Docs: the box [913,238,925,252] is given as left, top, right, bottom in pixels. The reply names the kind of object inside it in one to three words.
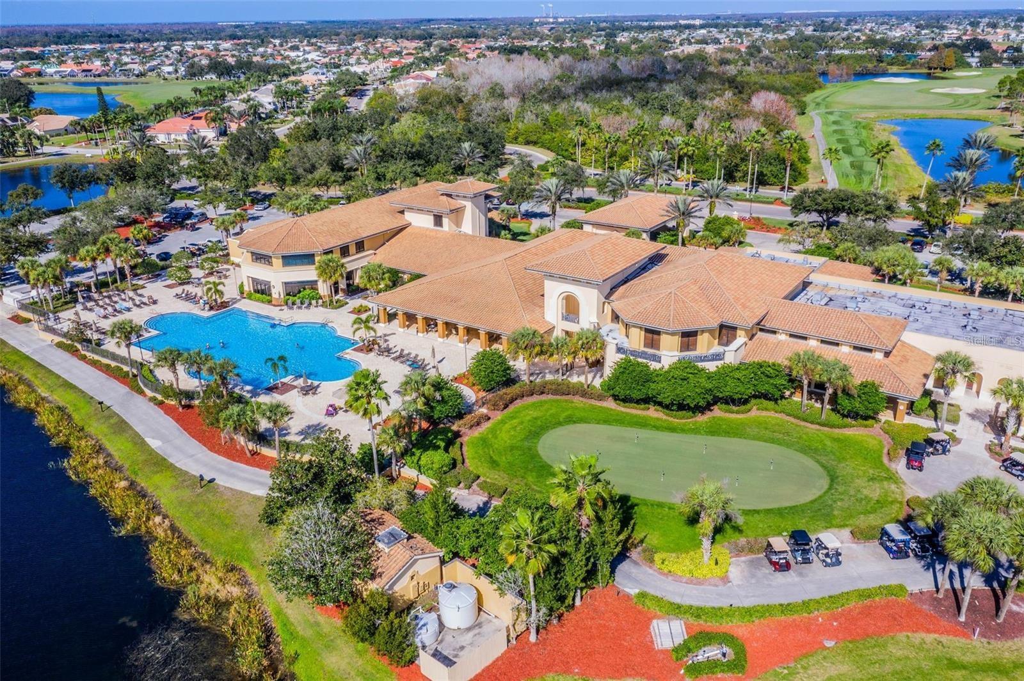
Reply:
vehicle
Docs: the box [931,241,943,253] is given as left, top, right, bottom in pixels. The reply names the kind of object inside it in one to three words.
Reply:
vehicle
